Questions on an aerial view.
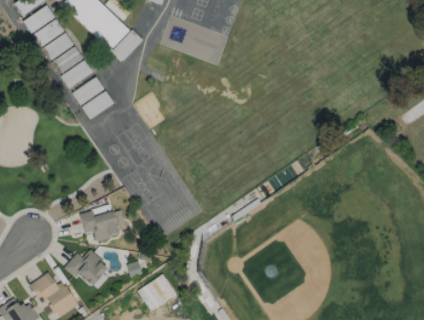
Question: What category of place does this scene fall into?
sports ground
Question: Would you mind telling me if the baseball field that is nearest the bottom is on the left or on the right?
right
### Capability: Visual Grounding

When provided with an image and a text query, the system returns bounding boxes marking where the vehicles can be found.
[170,300,182,310]
[0,293,6,304]
[70,220,82,225]
[26,213,40,219]
[62,246,73,257]
[1,288,10,300]
[54,220,65,226]
[60,224,72,229]
[58,252,70,262]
